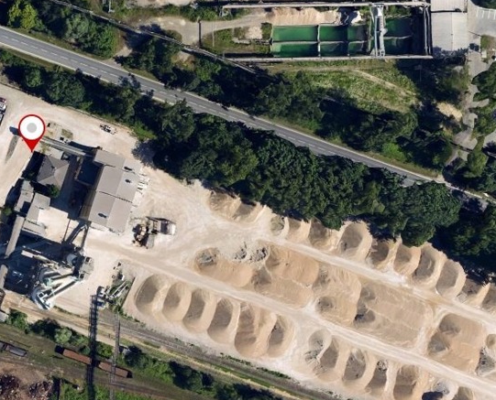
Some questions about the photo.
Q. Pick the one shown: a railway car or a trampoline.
railway car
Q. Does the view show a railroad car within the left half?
Yes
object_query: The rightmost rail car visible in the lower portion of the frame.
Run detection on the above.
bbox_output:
[97,359,130,380]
